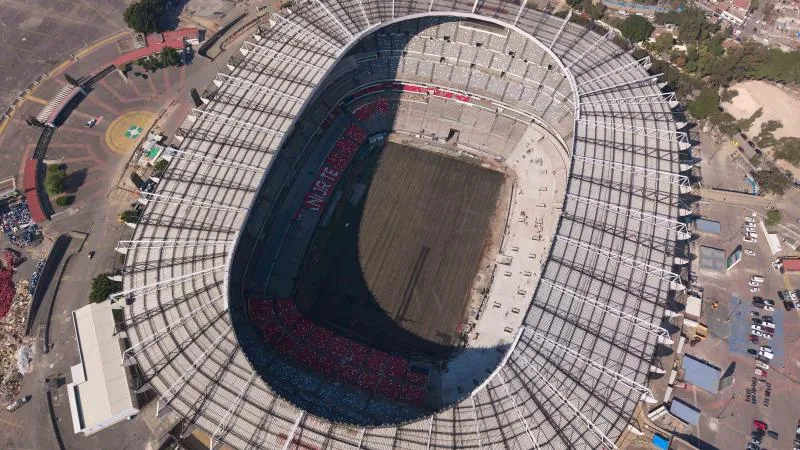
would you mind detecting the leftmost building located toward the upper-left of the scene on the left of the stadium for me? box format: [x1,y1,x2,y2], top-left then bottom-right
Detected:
[38,86,86,131]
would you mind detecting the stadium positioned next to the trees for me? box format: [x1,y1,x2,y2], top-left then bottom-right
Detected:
[110,0,695,450]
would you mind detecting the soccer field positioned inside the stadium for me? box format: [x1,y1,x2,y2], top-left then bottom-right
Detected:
[304,139,504,356]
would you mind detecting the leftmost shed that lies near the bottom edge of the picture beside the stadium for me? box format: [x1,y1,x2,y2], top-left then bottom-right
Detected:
[67,301,141,436]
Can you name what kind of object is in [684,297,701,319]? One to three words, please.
building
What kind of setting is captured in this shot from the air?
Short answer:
sports ground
